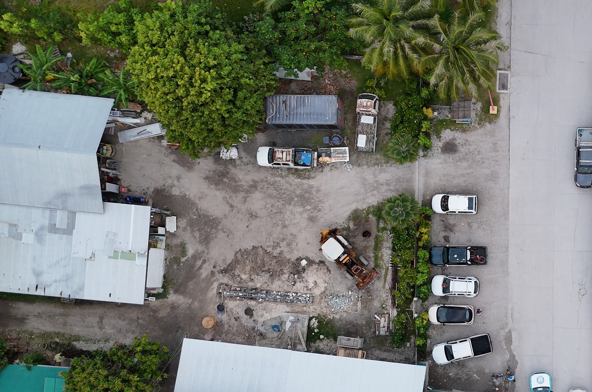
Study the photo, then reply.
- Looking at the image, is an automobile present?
Yes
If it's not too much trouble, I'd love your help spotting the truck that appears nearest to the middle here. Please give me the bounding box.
[260,144,325,169]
